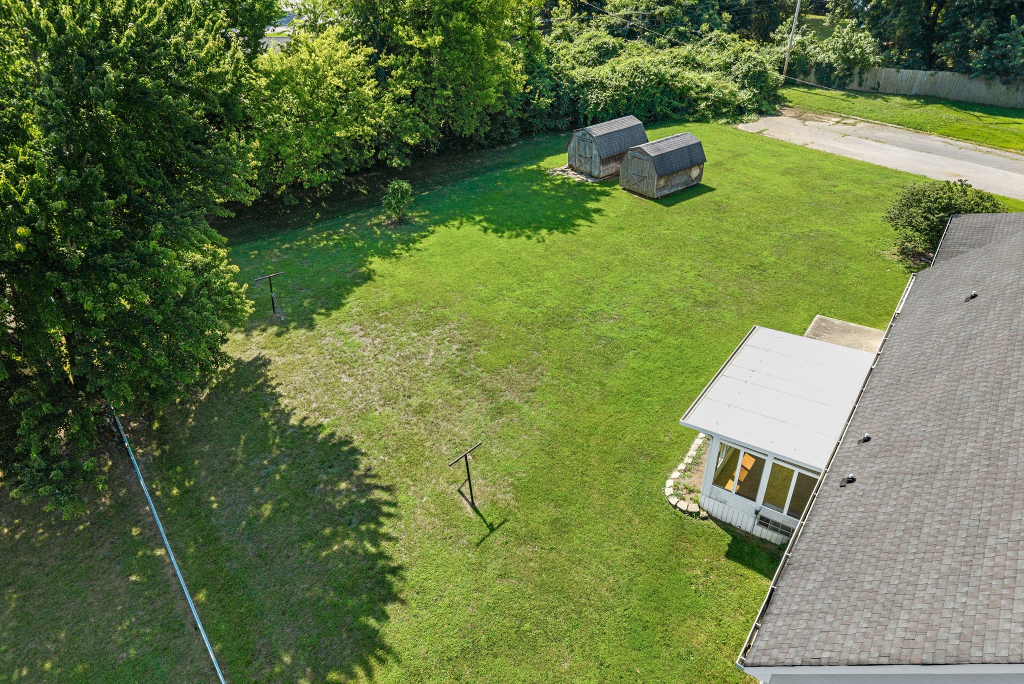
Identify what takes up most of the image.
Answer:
grass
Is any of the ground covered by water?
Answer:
No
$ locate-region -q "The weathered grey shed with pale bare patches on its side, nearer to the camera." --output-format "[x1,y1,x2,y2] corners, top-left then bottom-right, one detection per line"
[619,133,710,199]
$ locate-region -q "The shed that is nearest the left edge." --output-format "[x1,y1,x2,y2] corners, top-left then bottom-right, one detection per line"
[566,118,651,178]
